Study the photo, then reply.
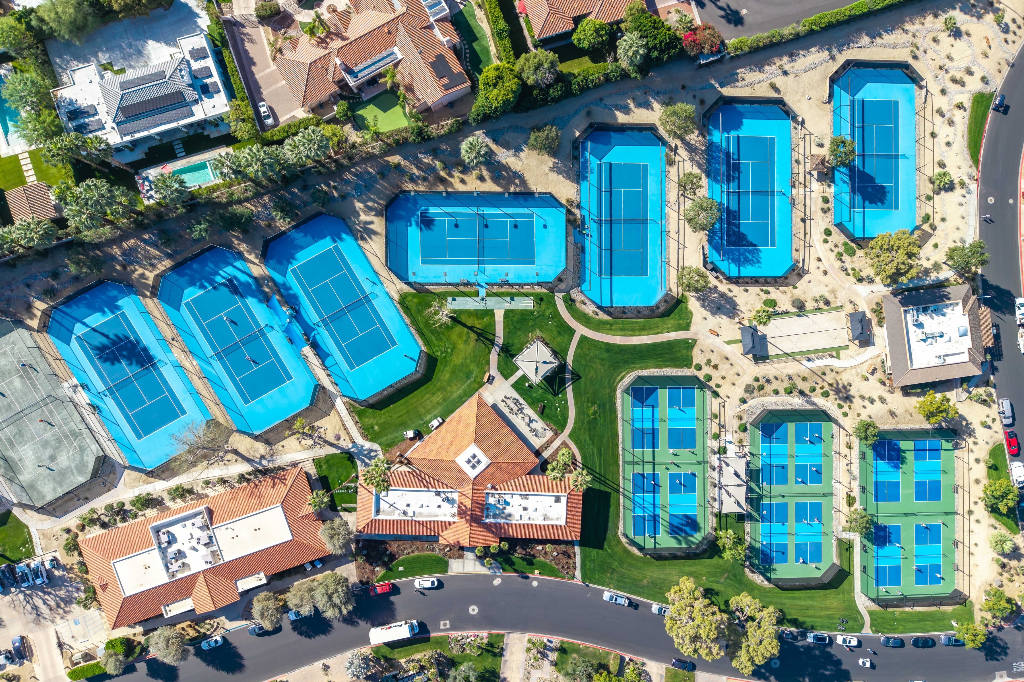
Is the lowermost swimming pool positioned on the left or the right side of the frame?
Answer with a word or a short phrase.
left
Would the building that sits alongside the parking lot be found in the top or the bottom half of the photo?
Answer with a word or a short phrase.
bottom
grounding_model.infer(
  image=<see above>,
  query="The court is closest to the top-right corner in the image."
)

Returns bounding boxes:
[833,68,916,235]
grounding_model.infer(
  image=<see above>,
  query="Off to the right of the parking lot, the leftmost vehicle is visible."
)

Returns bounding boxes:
[200,635,225,650]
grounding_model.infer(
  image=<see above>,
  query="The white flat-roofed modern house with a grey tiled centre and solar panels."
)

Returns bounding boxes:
[50,32,233,161]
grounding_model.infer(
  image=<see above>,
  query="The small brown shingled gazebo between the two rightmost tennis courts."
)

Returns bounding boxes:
[804,154,827,174]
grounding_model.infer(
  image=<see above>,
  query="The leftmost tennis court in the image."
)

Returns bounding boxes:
[0,318,104,509]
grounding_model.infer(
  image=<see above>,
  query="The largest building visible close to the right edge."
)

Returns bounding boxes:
[878,283,985,387]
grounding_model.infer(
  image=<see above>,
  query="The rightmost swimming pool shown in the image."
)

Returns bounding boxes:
[172,159,216,184]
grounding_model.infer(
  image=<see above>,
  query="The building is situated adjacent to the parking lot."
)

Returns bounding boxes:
[78,467,332,631]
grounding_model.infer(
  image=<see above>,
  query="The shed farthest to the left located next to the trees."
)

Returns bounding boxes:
[5,181,65,220]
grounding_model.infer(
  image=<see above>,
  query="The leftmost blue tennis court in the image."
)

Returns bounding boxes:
[47,281,212,470]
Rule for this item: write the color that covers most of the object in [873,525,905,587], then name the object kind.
blue sports court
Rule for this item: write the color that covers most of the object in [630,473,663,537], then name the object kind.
blue sports court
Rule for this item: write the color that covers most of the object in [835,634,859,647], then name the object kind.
white vehicle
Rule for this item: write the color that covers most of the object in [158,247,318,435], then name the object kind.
blue tennis court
